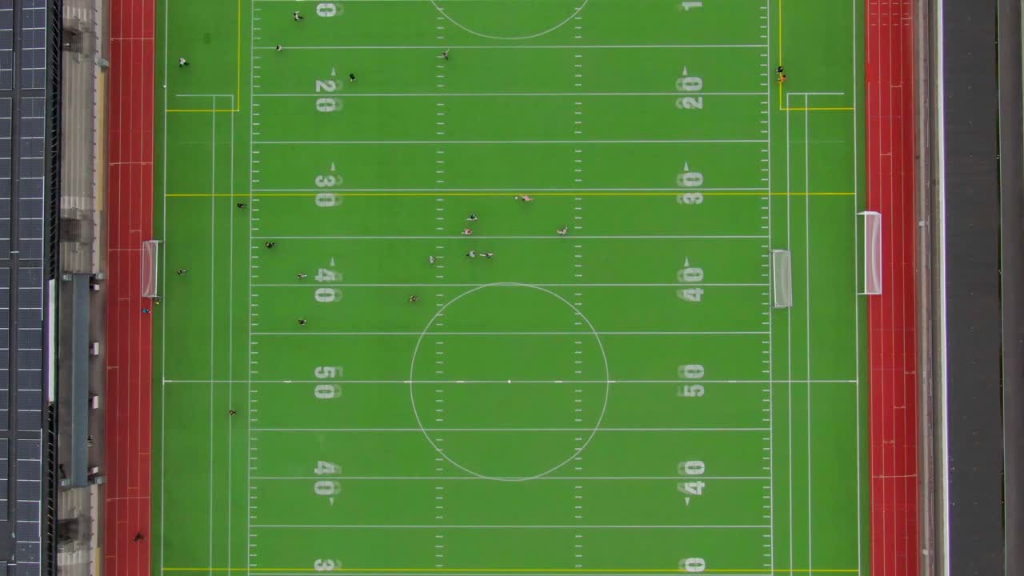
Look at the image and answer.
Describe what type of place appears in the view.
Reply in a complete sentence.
This image shows a sports ground.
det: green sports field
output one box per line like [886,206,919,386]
[151,0,871,576]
